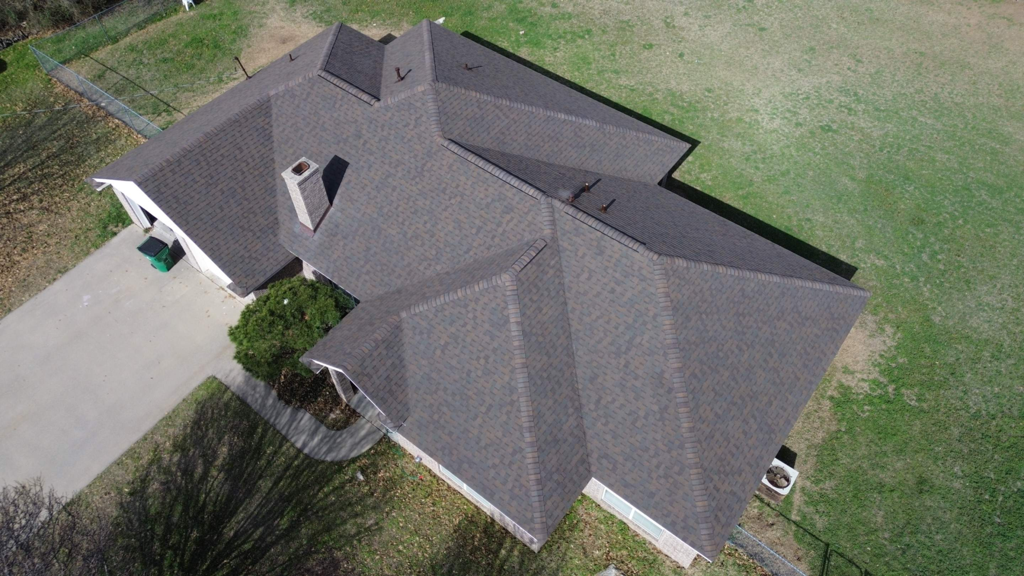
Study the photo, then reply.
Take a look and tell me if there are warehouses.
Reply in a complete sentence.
No, there appears to be no warehouse in this shot.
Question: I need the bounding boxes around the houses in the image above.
[84,18,873,569]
